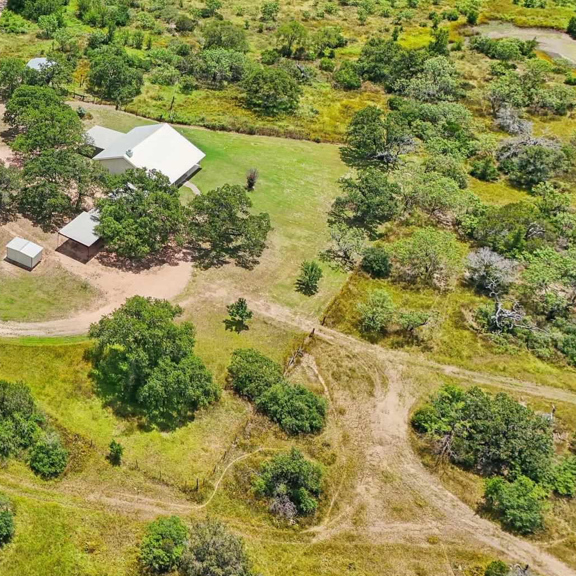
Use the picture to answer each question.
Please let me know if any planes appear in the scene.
No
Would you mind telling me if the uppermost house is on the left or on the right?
left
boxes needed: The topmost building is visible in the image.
[74,123,206,195]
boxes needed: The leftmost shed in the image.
[6,241,42,267]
